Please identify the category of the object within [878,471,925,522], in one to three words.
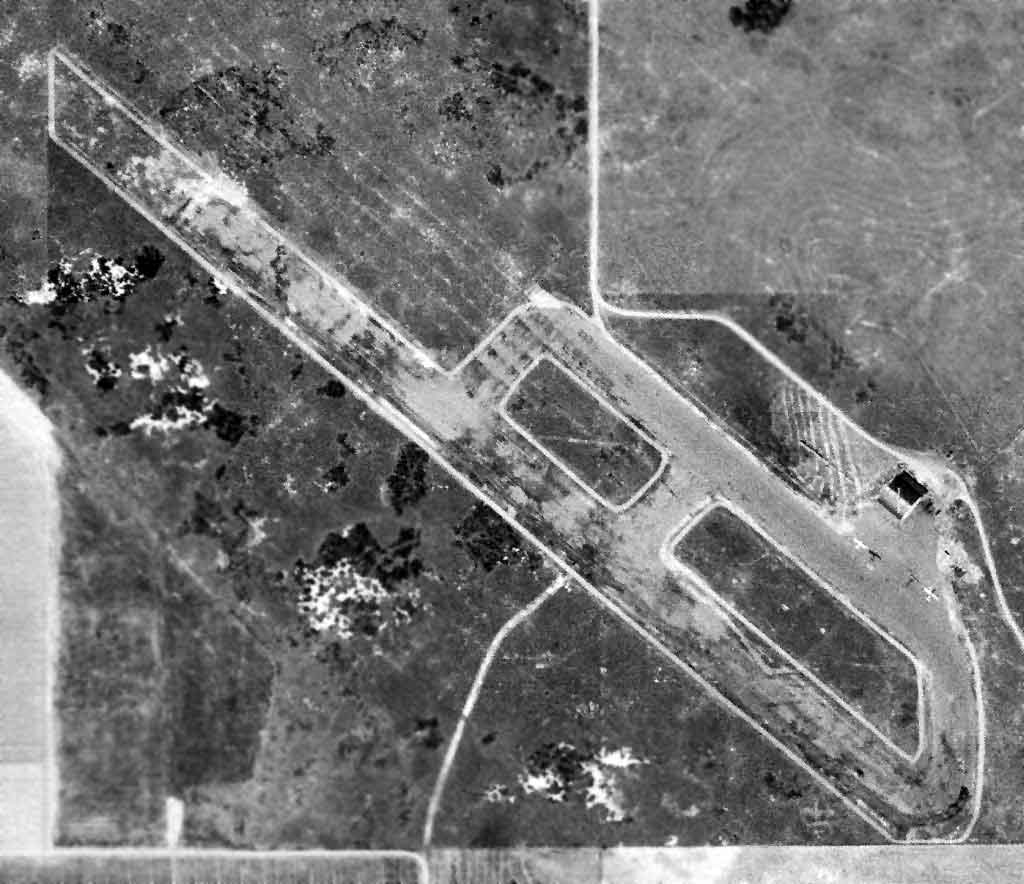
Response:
hangar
